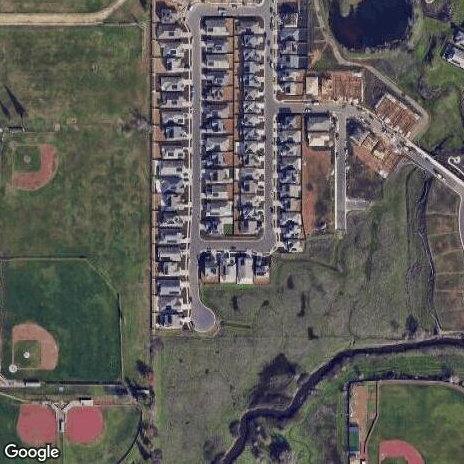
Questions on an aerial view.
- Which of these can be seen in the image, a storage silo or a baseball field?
baseball field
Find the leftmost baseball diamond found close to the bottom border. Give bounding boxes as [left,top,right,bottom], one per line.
[0,392,61,464]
